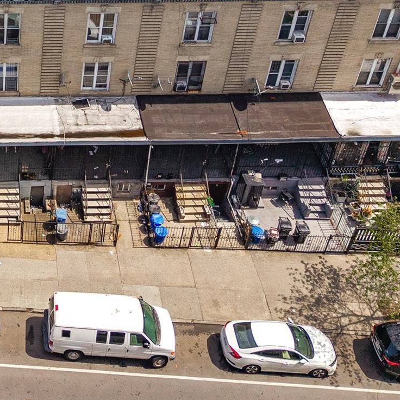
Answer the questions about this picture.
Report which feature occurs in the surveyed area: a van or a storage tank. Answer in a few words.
van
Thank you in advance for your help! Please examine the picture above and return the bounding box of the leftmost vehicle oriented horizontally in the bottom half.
[42,291,185,367]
